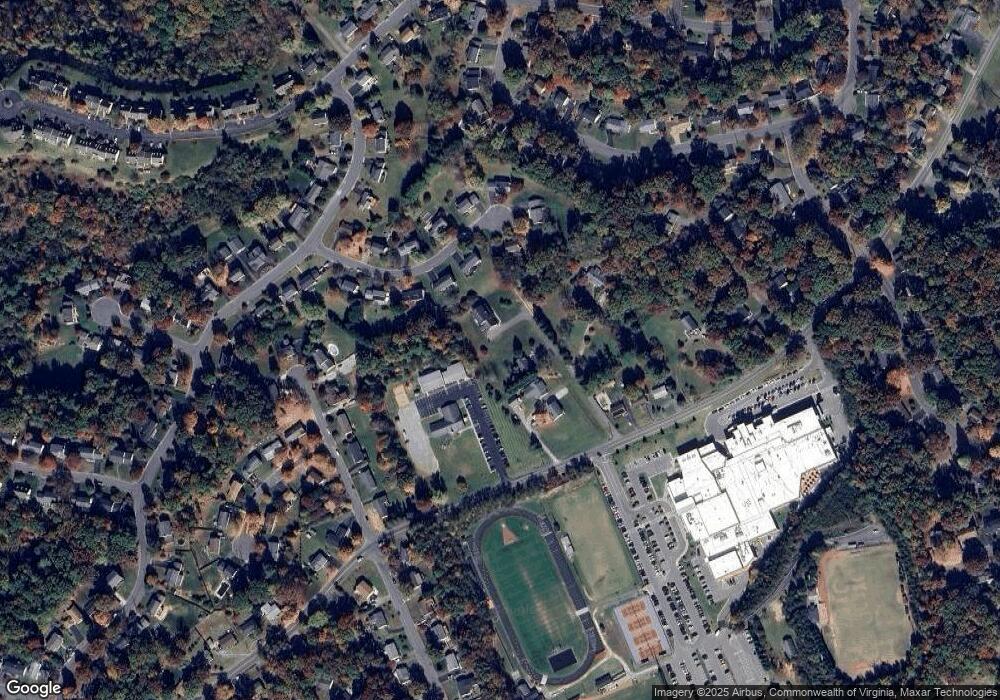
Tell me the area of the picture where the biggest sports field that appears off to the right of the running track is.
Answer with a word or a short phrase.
bottom right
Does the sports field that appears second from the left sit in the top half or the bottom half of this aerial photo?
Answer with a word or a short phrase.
bottom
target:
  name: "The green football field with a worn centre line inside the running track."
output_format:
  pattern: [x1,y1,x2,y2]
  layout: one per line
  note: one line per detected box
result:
[485,517,587,677]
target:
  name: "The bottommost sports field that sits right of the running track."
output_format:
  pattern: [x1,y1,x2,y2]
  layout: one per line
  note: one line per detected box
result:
[818,542,912,677]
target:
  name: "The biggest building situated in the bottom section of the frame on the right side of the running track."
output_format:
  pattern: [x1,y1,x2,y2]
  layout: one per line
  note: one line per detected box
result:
[668,407,838,579]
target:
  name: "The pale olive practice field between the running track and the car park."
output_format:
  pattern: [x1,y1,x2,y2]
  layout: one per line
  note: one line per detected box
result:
[549,477,641,599]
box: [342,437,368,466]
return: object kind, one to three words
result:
house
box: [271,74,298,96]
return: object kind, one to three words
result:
house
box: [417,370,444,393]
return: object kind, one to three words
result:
building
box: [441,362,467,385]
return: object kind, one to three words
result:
building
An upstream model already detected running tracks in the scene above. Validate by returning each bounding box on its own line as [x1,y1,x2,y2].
[476,507,609,687]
